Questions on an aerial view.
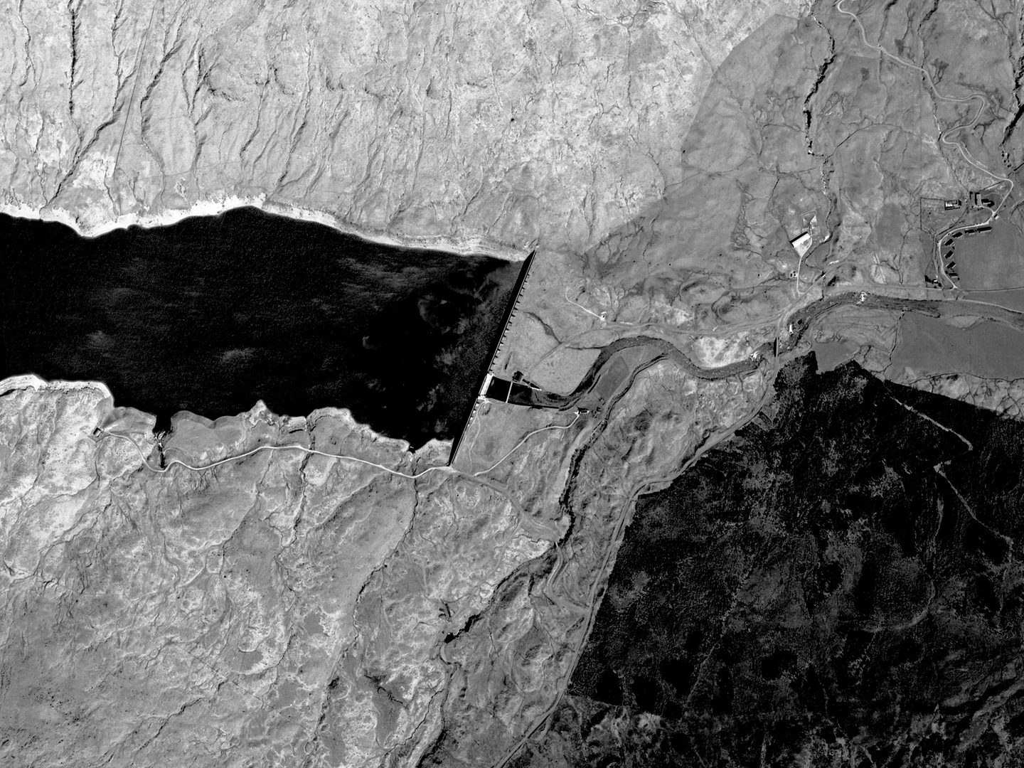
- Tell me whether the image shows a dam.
Yes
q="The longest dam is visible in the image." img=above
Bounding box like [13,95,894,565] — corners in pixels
[450,250,536,466]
